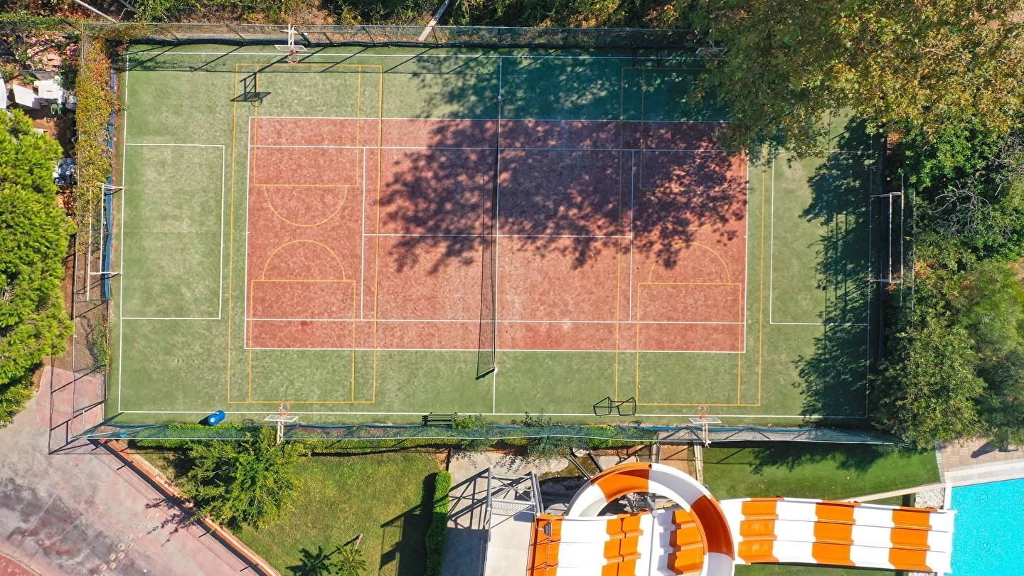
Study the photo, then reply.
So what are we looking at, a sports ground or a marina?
sports ground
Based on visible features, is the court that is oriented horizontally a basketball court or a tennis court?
tennis court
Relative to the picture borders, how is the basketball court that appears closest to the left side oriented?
vertically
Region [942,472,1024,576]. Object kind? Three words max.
swimming pool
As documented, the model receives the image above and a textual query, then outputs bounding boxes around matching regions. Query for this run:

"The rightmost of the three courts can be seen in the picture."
[615,67,766,407]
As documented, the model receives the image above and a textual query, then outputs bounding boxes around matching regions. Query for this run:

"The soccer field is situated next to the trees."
[106,45,879,427]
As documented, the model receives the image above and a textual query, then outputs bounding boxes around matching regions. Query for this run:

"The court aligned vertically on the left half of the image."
[228,63,382,404]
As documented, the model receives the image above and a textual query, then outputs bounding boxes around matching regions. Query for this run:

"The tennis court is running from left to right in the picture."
[244,116,750,353]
